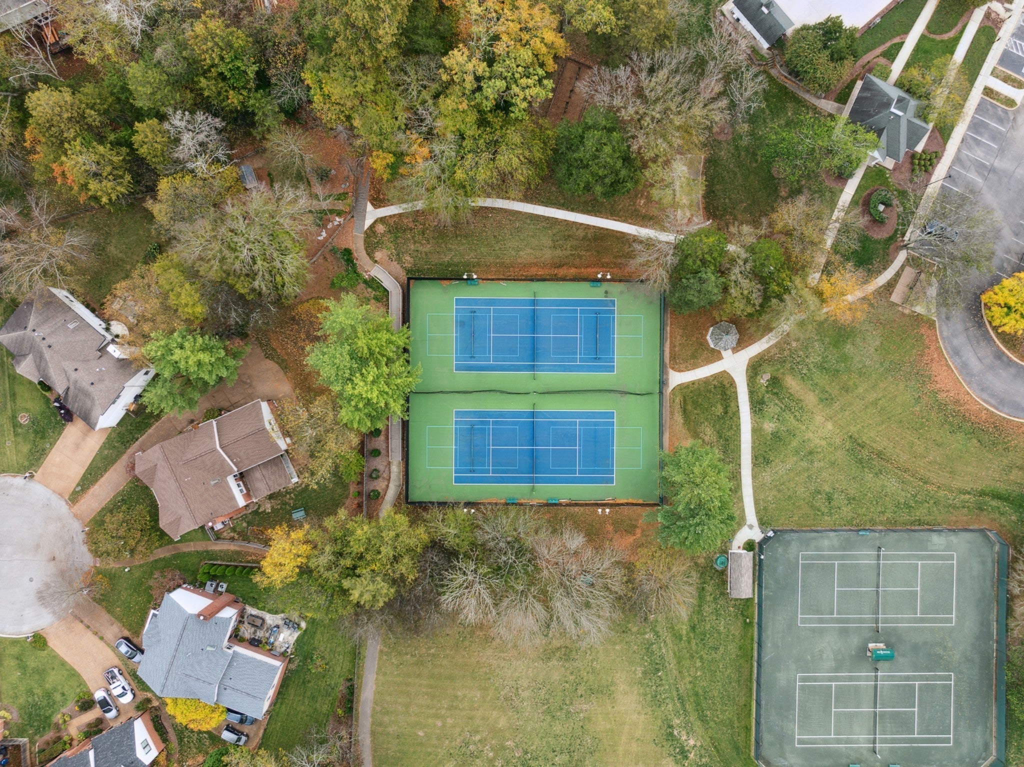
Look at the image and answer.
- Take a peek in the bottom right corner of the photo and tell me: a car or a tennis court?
tennis court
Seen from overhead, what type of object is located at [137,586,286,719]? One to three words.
house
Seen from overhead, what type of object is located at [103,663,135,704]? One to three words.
truck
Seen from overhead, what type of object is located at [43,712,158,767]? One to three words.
house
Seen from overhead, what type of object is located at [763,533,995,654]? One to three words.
tennis court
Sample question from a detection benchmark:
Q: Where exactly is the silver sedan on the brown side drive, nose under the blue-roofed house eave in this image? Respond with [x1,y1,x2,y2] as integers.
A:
[114,636,145,666]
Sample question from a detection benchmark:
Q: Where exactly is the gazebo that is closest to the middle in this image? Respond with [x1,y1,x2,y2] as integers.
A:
[704,320,740,353]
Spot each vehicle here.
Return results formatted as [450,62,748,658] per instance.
[217,723,251,745]
[223,707,258,728]
[94,687,120,720]
[114,636,145,666]
[103,663,135,704]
